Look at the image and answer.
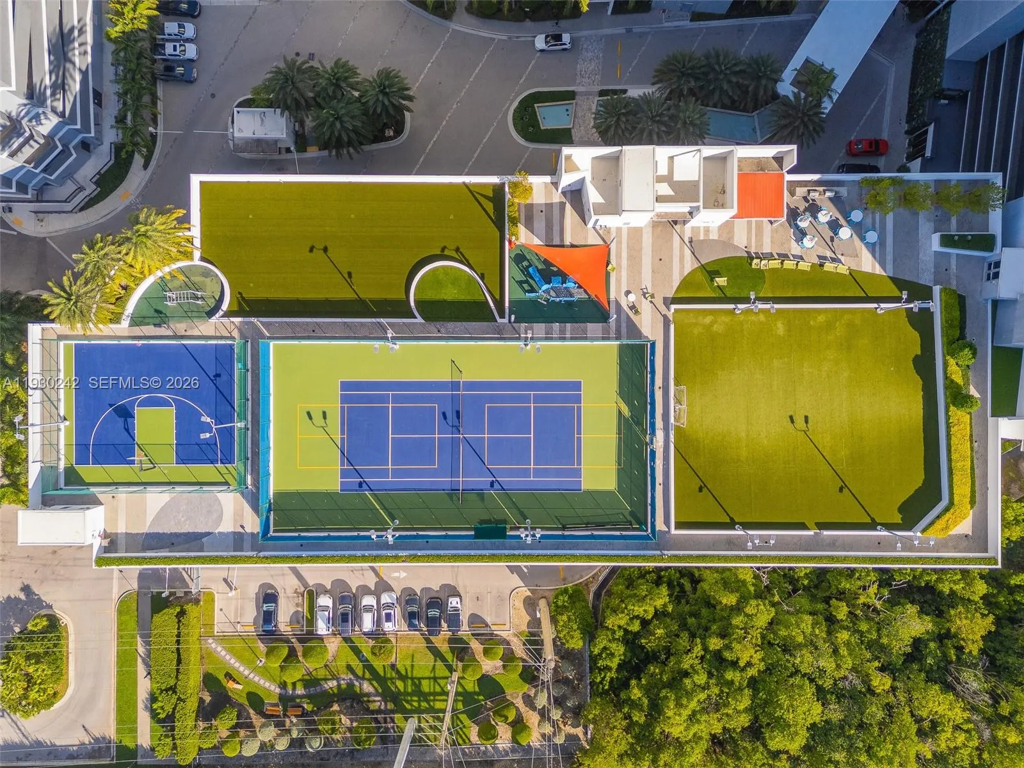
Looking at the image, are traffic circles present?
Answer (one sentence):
No, the frame has no traffic circle in it.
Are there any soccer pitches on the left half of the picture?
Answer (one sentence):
No, there is no soccer pitch on the left half of the picture.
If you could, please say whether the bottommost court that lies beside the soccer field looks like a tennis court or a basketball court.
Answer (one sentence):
It turns out the bottommost court that lies beside the soccer field is a tennis court.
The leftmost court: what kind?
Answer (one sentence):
It looks like the leftmost court is a basketball court.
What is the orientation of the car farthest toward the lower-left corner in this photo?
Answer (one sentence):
In this picture, the car farthest toward the lower-left corner is oriented from top to bottom.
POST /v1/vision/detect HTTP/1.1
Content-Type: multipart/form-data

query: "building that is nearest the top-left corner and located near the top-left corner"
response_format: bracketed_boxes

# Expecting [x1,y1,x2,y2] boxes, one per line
[0,0,100,198]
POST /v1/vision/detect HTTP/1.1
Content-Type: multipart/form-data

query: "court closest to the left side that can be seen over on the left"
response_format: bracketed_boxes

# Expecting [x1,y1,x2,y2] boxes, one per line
[59,340,241,489]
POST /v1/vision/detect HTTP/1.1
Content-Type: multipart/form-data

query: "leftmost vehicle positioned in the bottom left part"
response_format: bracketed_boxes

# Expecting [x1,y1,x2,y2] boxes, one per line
[260,590,280,630]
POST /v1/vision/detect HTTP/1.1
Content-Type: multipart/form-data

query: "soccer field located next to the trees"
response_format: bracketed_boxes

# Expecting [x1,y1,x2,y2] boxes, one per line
[669,287,947,534]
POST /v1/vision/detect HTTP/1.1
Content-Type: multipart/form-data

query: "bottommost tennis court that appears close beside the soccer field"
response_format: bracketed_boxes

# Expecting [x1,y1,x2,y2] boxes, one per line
[270,342,650,535]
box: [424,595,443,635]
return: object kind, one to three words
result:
car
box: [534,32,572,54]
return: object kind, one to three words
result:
car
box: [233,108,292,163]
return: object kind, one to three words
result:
building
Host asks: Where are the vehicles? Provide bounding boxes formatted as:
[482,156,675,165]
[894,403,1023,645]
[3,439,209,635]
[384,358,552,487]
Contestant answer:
[359,591,378,632]
[153,19,199,43]
[403,591,422,630]
[424,595,443,635]
[534,32,572,54]
[378,589,398,630]
[836,159,878,174]
[846,136,886,157]
[154,40,201,64]
[158,62,197,84]
[445,592,464,632]
[315,592,334,633]
[335,592,355,632]
[260,590,280,630]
